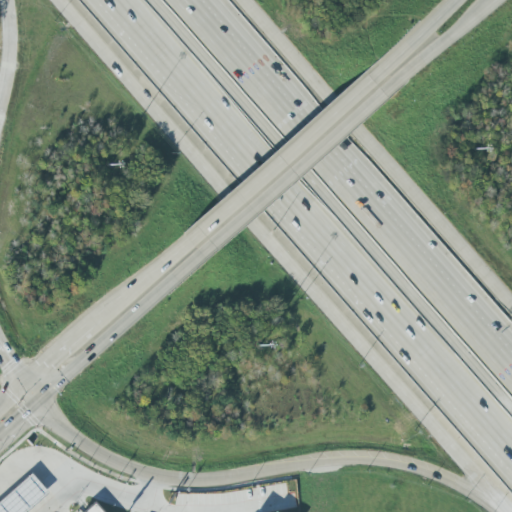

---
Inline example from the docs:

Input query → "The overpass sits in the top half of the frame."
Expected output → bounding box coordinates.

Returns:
[188,60,402,257]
